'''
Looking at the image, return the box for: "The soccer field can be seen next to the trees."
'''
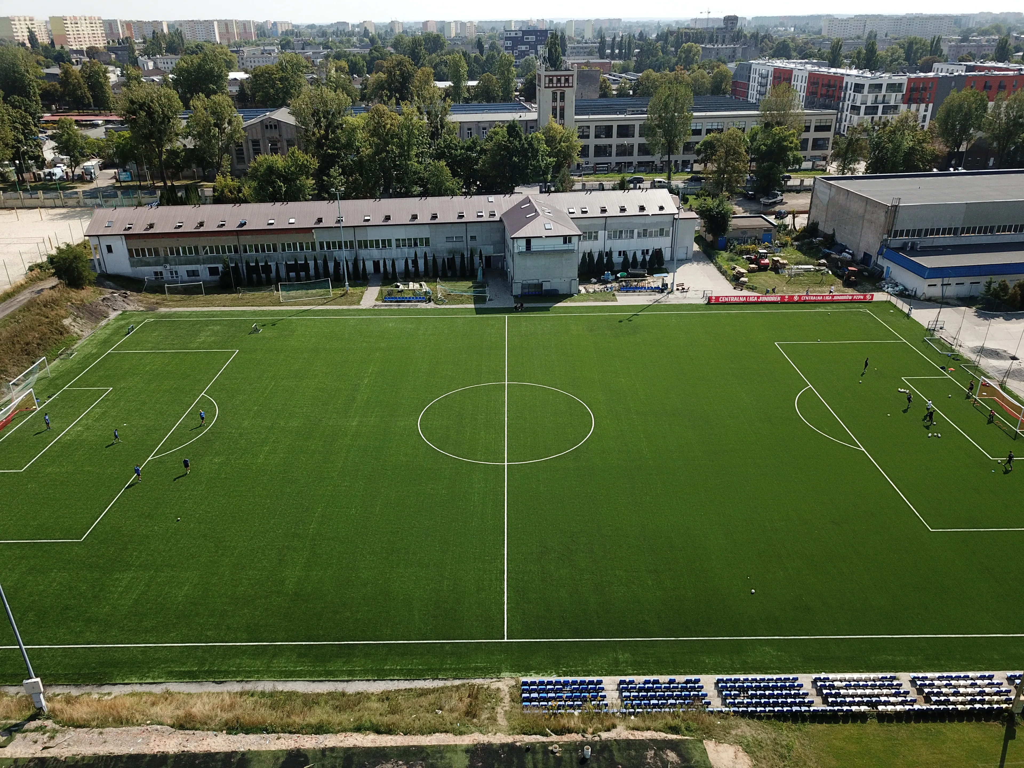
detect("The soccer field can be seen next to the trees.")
[0,301,1024,684]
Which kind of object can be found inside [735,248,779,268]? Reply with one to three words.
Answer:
work vehicle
